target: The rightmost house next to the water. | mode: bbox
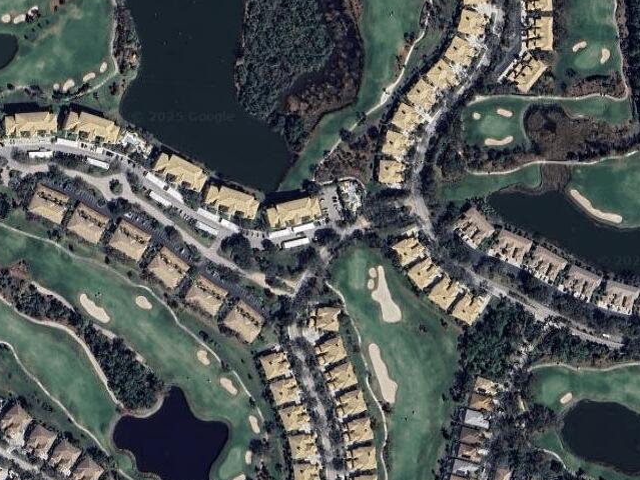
[601,280,639,310]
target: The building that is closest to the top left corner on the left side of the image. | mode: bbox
[3,110,58,136]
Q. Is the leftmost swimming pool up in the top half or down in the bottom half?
top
